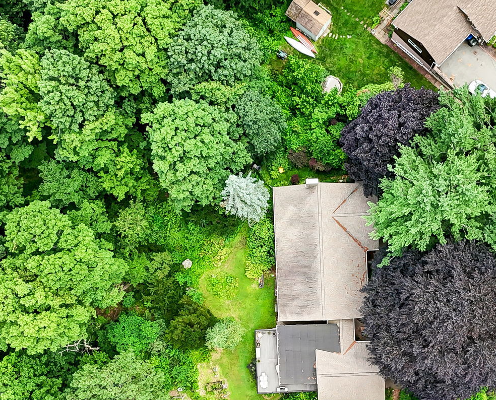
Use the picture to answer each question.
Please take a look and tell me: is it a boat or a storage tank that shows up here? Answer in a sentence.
There is a boat in the scene.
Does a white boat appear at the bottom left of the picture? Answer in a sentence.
No, I can find no white boat at the bottom left of the picture.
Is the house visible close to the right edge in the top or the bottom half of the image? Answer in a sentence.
It is in the top half that the house visible close to the right edge appears.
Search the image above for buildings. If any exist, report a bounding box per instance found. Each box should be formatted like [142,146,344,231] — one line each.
[391,0,496,73]
[283,0,334,44]
[274,176,389,400]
